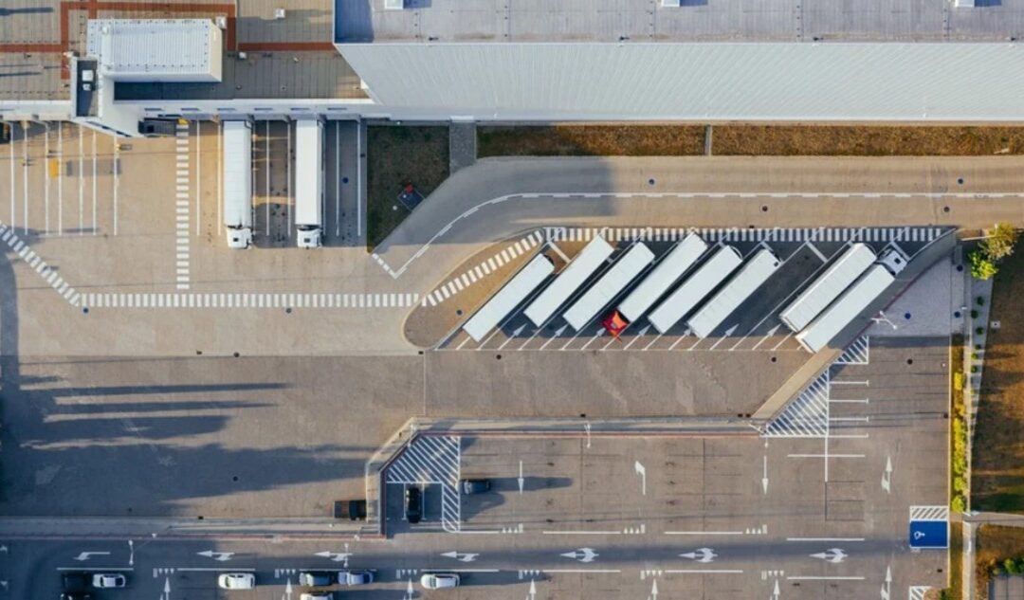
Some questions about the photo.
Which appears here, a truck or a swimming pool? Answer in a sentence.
I can see a truck in this picture.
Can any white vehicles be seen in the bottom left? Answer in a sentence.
Yes, a white vehicle appears in the bottom left.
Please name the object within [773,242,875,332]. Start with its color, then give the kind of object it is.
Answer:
white trailer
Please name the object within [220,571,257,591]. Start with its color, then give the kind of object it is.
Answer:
white car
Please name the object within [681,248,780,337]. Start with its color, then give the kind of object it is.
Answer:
white trailer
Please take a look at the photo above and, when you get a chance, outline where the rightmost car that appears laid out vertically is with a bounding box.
[404,485,421,523]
